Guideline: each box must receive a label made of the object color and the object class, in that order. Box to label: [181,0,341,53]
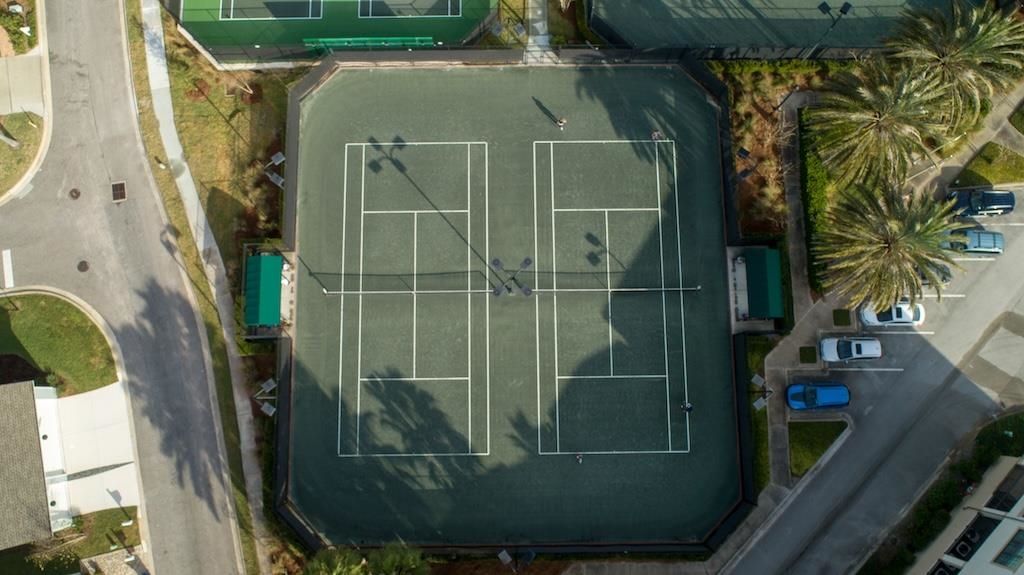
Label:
green tennis court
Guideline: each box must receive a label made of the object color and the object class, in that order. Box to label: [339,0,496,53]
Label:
green tennis court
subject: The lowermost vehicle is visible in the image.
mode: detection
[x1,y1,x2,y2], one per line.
[786,381,853,411]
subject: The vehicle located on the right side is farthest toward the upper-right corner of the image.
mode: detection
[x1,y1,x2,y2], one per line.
[946,188,1018,218]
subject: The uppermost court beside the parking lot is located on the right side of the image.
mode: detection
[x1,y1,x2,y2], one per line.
[591,0,1000,48]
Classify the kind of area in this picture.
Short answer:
sports ground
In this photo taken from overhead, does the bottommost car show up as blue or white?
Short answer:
blue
